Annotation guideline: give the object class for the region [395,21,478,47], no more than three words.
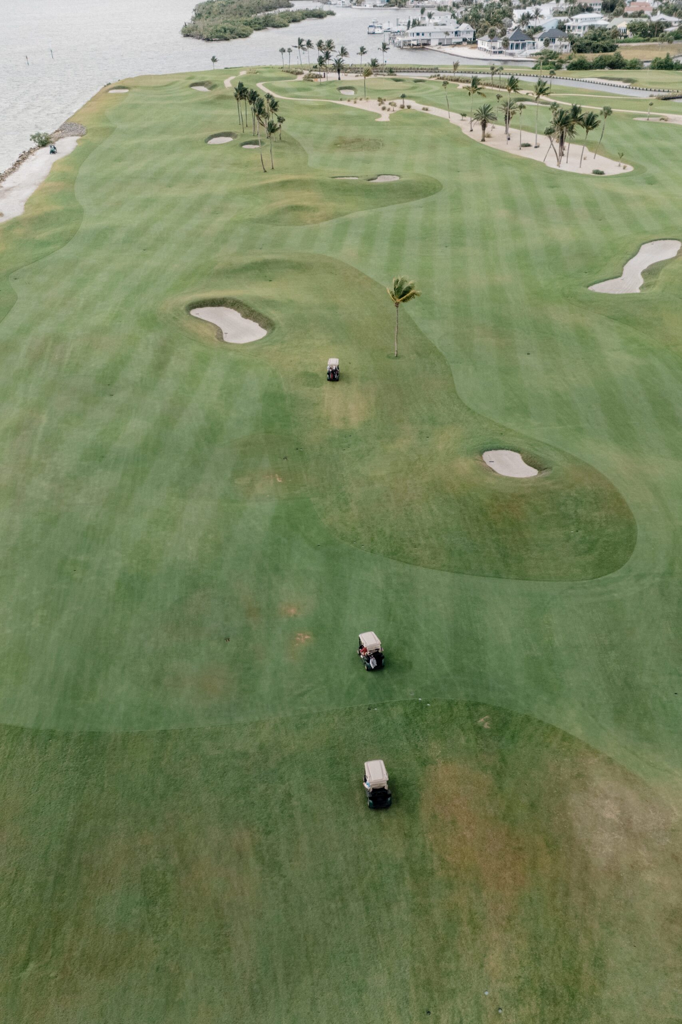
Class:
house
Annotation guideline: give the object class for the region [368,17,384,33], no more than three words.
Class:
boat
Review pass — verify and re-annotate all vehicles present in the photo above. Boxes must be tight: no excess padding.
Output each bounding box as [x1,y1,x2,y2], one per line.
[366,761,394,810]
[327,358,339,380]
[359,631,389,672]
[47,144,57,154]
